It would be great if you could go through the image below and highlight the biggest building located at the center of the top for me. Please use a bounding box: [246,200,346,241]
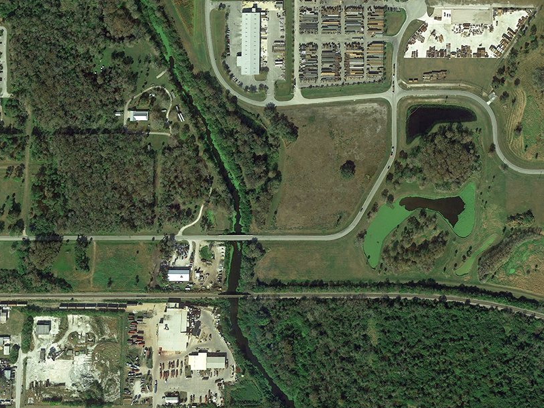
[236,8,259,74]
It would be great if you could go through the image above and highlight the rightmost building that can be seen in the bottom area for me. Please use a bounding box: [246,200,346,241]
[188,352,225,370]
